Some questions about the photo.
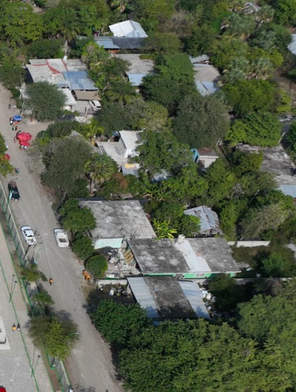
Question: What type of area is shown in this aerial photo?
residential area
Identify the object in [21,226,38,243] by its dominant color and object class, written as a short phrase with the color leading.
white car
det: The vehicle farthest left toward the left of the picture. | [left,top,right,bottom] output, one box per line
[6,179,22,198]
